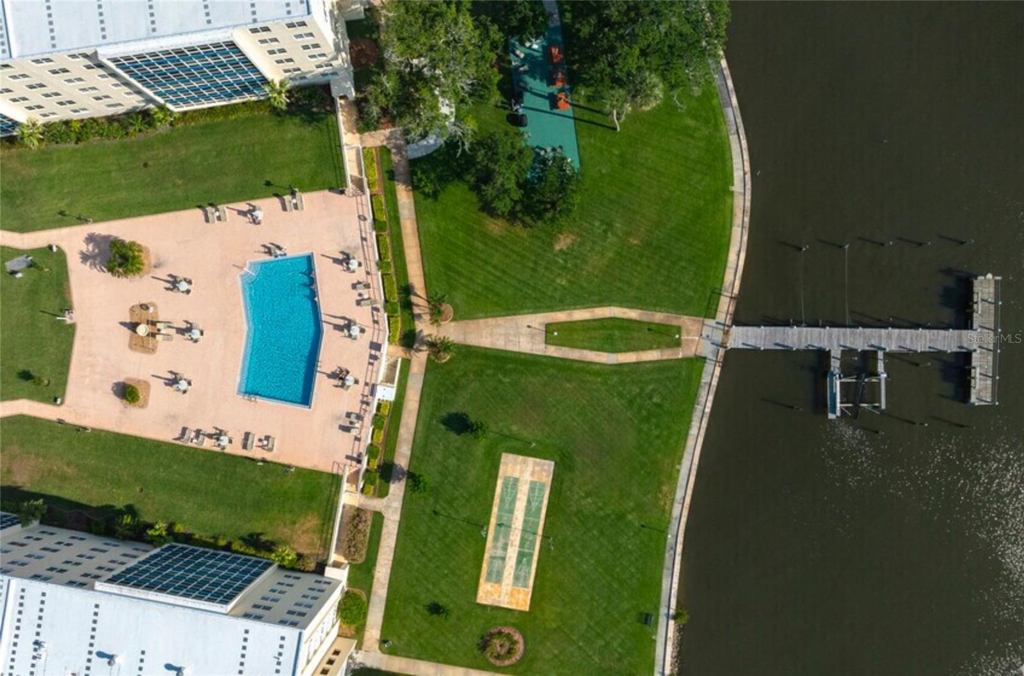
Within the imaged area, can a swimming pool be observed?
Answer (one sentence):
Yes, there's a swimming pool here.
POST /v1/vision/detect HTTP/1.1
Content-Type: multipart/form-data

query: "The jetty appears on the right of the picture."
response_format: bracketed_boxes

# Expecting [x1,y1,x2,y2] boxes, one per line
[726,276,1003,405]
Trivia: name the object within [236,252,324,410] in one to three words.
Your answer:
swimming pool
